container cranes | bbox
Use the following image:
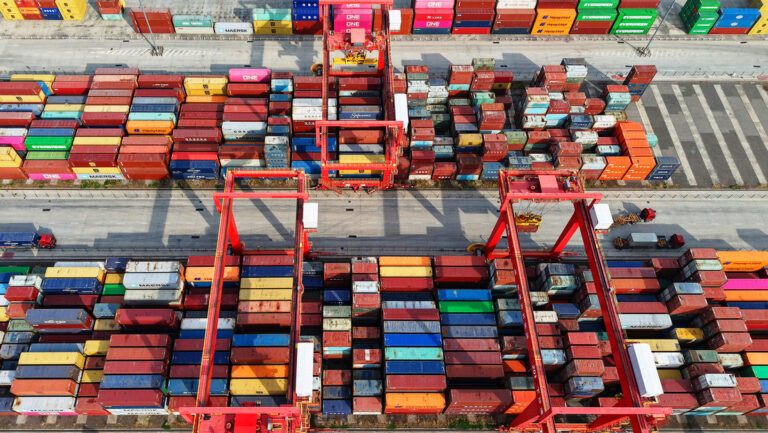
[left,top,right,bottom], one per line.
[308,0,414,187]
[464,163,677,433]
[178,163,330,433]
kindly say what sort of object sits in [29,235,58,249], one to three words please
vehicle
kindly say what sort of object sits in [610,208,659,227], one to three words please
vehicle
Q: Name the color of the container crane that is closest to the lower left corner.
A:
red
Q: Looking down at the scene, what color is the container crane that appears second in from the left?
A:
red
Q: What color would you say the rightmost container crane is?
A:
red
